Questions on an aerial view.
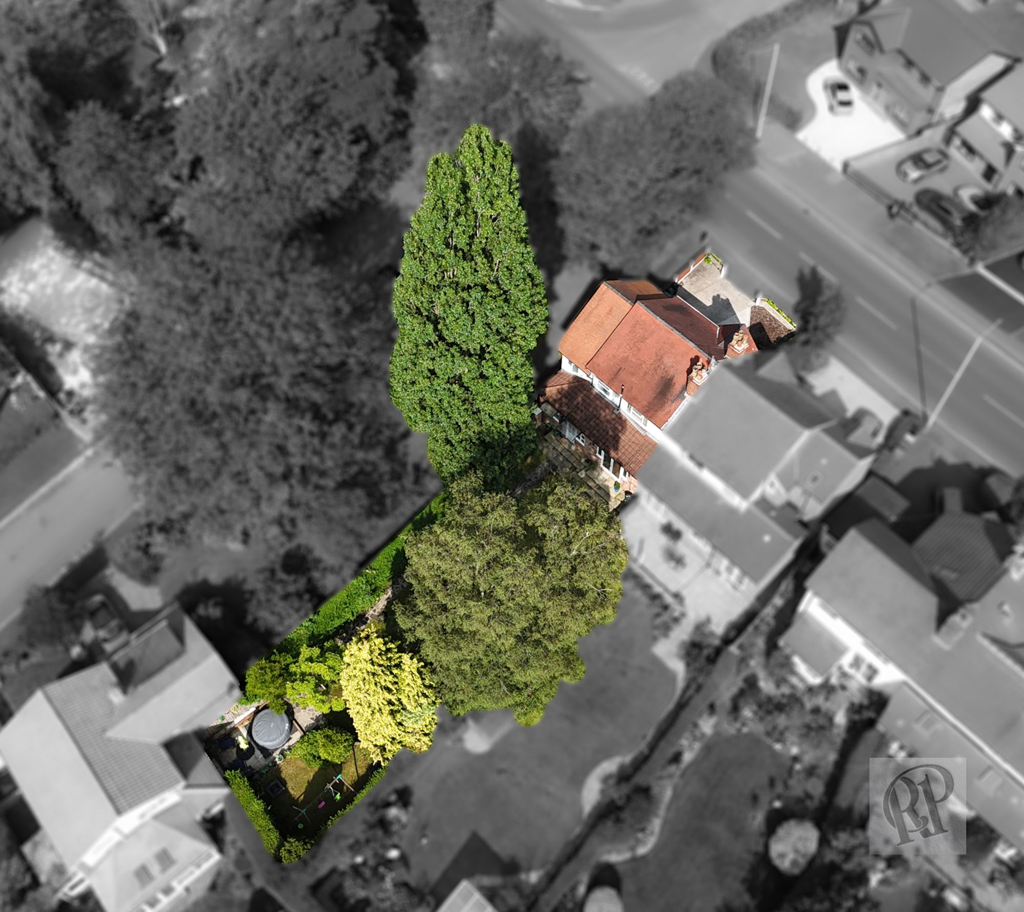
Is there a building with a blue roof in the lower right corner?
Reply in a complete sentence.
No, I see no building with a blue roof in the lower right corner.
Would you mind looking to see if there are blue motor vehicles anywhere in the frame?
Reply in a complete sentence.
No, there appears to be no blue motor vehicle in this shot.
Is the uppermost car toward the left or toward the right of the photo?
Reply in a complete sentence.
The uppermost car appears in the right half of the scene.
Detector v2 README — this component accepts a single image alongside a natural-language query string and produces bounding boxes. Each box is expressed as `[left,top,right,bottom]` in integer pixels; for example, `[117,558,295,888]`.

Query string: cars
[847,400,891,448]
[908,186,971,234]
[896,143,953,184]
[72,582,140,652]
[822,78,856,117]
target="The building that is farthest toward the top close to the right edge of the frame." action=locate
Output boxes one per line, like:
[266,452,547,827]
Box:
[835,0,1022,134]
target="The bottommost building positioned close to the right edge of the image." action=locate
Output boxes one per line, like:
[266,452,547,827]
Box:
[770,511,1024,885]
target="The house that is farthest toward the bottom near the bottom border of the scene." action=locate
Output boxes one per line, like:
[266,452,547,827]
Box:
[428,877,491,912]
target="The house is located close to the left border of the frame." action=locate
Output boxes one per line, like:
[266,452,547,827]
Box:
[0,605,247,912]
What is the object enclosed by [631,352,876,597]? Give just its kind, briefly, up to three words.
house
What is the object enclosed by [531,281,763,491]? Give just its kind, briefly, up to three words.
house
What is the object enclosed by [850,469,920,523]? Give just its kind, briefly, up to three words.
shed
